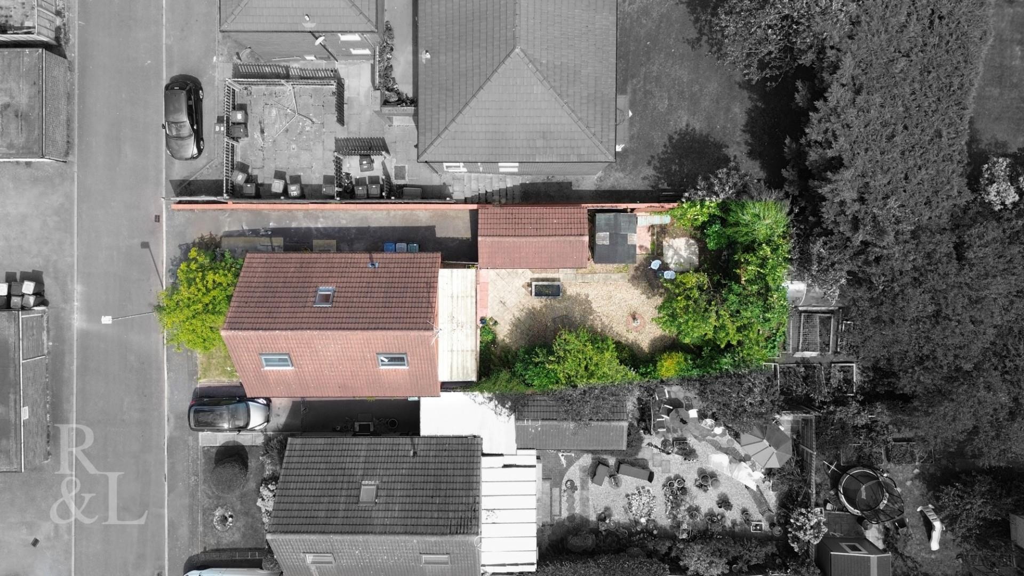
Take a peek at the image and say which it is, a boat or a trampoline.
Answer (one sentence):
The image shows a trampoline.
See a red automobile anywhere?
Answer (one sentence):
No, no red automobile can be seen from above.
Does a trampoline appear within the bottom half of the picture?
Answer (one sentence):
Yes, you'll find a trampoline within the bottom half of the picture.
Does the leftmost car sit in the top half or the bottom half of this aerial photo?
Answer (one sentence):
Seen from above, the leftmost car lies in the top half of the view.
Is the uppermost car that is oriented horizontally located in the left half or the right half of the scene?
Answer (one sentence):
The uppermost car that is oriented horizontally sits on the left side.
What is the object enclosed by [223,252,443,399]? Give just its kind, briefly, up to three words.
house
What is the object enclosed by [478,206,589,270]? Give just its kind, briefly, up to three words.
building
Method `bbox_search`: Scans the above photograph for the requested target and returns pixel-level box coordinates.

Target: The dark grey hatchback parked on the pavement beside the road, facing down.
[160,79,207,162]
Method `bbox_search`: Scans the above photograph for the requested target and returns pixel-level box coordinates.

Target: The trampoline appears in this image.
[829,462,905,528]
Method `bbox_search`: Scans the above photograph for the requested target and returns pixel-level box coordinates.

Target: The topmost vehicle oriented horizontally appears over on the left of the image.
[185,394,275,437]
